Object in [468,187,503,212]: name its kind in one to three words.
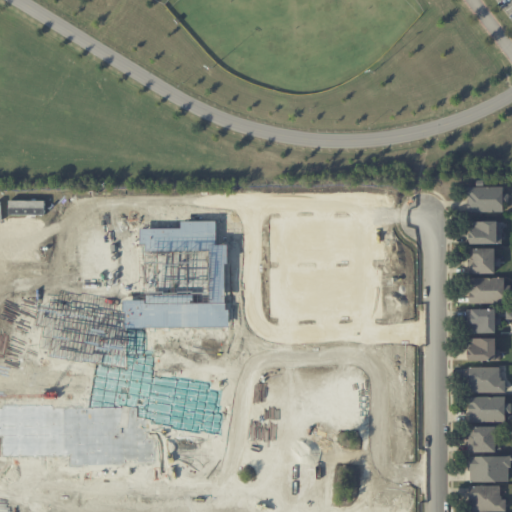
house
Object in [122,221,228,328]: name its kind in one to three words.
building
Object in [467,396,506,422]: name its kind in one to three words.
house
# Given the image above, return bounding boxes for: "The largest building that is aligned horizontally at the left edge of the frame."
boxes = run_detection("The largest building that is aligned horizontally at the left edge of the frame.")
[8,201,44,216]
